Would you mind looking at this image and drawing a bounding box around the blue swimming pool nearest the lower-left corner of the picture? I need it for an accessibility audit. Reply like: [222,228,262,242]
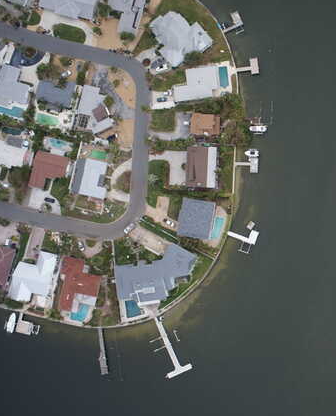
[70,302,90,321]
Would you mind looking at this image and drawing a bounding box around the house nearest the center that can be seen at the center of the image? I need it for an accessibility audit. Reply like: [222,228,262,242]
[177,197,217,238]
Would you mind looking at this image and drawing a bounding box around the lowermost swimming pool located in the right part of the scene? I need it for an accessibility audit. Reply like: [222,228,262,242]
[210,215,226,241]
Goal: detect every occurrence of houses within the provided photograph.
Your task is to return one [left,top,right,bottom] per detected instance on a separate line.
[0,136,32,178]
[190,112,221,134]
[57,254,103,311]
[76,84,115,136]
[173,66,222,99]
[6,252,60,305]
[115,242,199,305]
[38,0,99,20]
[36,79,78,109]
[72,158,110,199]
[177,197,217,238]
[0,65,35,104]
[110,0,148,36]
[150,10,214,73]
[188,137,218,188]
[27,151,72,191]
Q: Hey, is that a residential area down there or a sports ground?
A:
residential area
